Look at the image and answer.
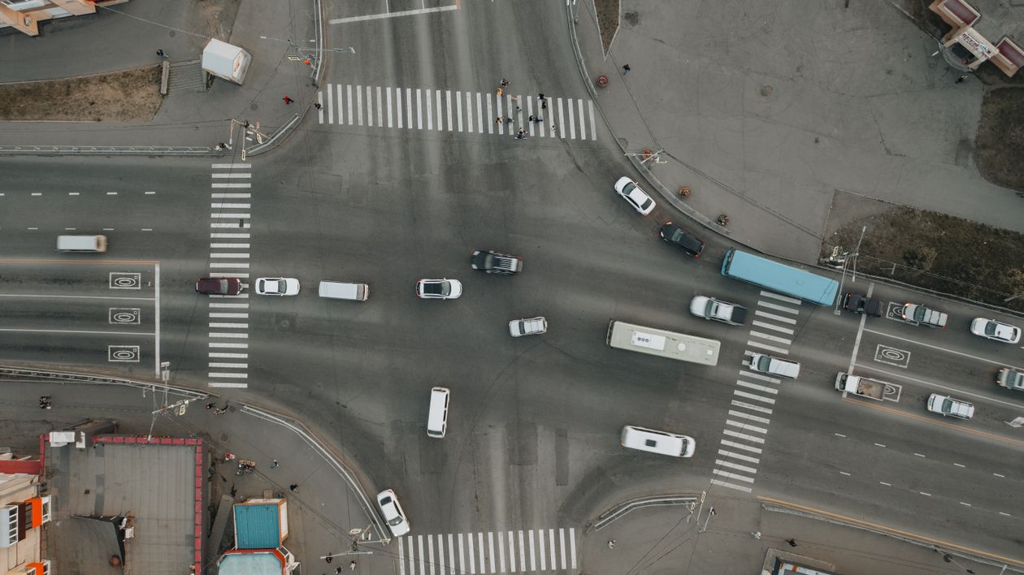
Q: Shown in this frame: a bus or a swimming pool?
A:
bus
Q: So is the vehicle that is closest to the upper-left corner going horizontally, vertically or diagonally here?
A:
horizontally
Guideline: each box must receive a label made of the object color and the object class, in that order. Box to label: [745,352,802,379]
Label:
white car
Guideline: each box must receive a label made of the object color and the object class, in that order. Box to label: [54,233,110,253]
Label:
white vehicle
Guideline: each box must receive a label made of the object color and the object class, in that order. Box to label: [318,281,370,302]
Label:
white vehicle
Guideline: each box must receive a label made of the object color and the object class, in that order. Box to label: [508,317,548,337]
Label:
white car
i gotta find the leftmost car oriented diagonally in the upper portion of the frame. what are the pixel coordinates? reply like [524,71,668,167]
[613,174,658,218]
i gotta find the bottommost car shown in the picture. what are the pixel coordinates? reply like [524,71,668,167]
[377,487,409,536]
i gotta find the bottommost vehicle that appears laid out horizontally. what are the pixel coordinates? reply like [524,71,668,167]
[618,423,696,458]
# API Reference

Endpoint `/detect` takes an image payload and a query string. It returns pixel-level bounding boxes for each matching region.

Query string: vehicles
[426,385,450,438]
[924,395,977,420]
[841,294,886,317]
[968,318,1022,344]
[377,487,409,536]
[900,305,950,329]
[745,352,802,379]
[830,372,887,401]
[688,299,749,325]
[618,423,696,458]
[470,251,523,274]
[255,276,301,297]
[508,317,548,337]
[613,174,658,218]
[994,369,1024,391]
[604,319,720,365]
[318,281,370,302]
[54,233,110,253]
[193,276,243,297]
[714,248,837,305]
[416,278,463,299]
